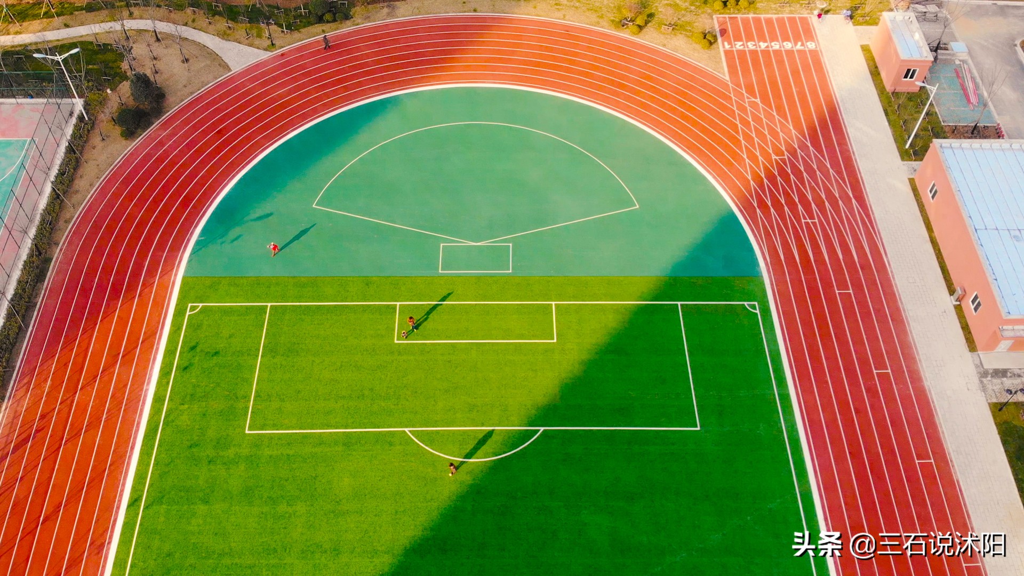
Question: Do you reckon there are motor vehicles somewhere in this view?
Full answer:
No, the frame has no motor vehicle in it.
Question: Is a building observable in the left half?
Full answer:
No, no building can be made out in the left half.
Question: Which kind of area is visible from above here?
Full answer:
This looks like a sports ground.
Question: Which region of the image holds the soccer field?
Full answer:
The soccer field is located in the bottom region of the scene.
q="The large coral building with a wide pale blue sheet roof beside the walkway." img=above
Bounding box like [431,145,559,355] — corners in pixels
[915,140,1024,351]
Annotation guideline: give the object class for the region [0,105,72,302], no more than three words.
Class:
basketball court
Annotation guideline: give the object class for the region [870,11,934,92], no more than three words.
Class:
building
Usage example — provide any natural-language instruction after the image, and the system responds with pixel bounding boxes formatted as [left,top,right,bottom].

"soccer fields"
[113,275,829,576]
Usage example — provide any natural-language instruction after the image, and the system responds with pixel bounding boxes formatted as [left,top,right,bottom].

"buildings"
[915,140,1024,351]
[870,11,934,92]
